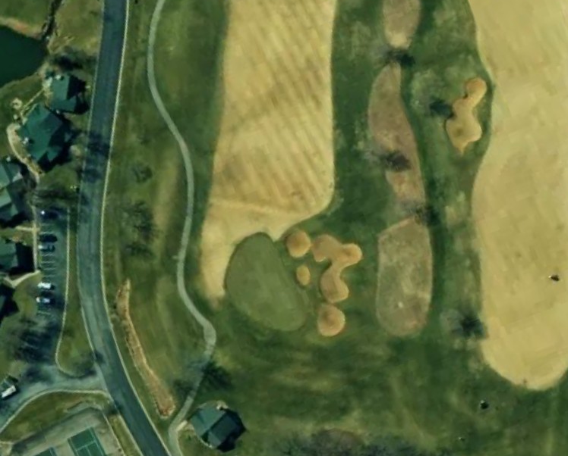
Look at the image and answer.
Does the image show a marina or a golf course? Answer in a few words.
golf course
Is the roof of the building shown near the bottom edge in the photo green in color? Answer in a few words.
Yes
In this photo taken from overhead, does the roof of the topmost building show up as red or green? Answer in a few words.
green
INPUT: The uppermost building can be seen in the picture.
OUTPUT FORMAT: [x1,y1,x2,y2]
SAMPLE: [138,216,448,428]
[45,75,87,114]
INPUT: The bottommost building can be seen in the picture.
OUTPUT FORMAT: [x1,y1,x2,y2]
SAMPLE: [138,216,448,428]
[185,404,237,456]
